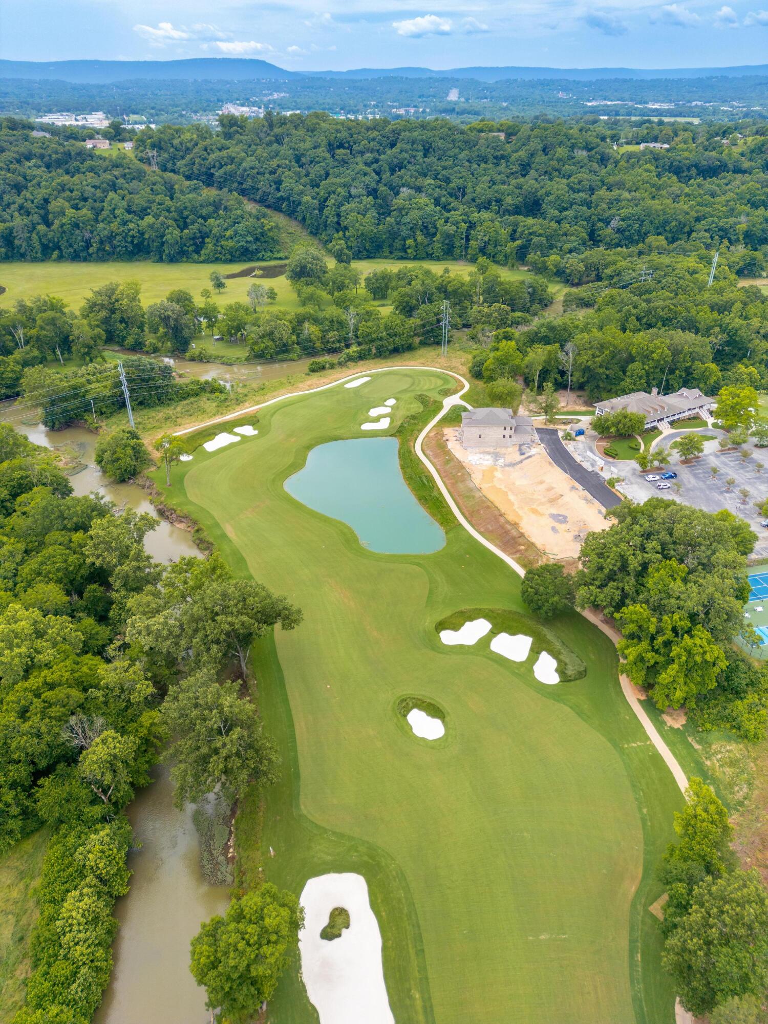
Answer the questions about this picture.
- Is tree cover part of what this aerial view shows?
Yes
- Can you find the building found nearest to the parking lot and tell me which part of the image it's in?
right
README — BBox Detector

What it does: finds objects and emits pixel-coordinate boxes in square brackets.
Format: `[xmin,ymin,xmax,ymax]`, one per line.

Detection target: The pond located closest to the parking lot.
[283,437,446,554]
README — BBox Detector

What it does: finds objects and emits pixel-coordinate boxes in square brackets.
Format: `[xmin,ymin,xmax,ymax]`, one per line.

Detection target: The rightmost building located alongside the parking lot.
[593,380,717,439]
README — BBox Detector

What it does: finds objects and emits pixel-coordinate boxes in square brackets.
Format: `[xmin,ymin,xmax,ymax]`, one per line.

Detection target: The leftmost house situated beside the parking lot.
[459,402,532,446]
